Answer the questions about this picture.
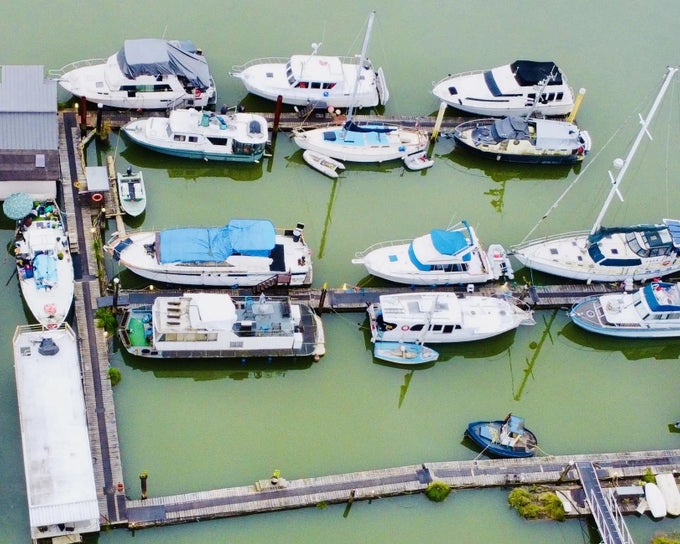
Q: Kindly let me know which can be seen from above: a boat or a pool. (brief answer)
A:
boat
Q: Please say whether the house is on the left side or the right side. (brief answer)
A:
left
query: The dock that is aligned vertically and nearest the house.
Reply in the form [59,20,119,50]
[60,102,130,532]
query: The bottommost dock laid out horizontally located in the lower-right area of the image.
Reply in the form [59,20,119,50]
[426,453,680,489]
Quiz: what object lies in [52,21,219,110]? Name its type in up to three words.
boat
